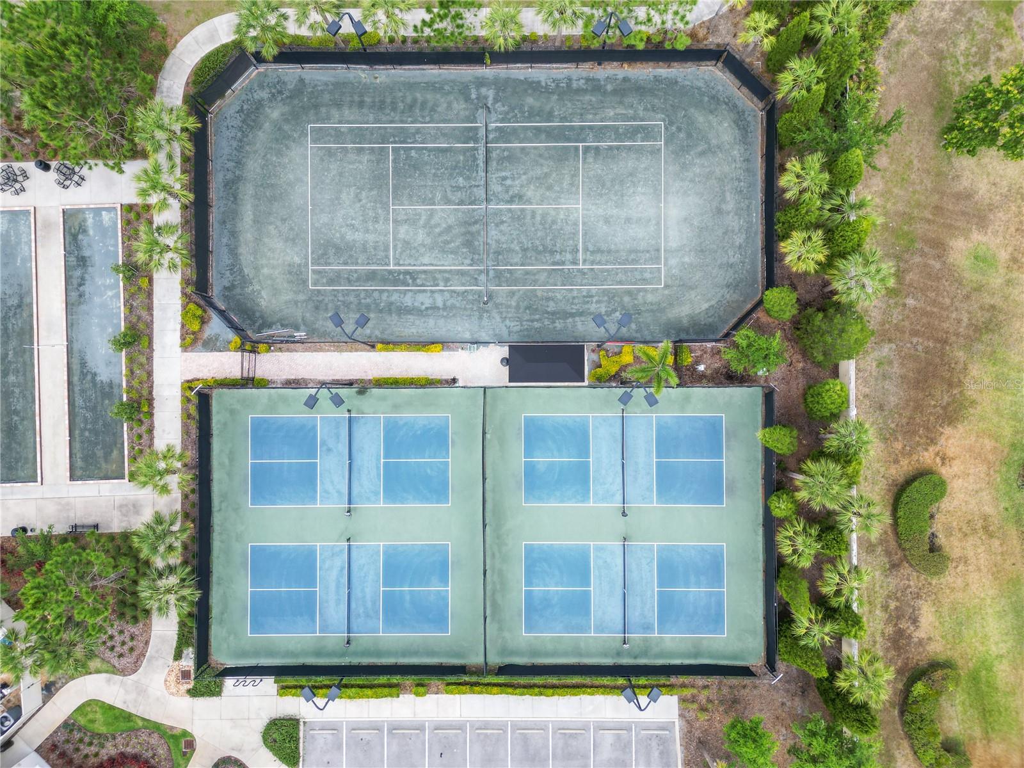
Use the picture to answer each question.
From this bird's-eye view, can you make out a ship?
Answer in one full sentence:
No, I can see no ship in this picture.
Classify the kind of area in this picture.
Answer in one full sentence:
The area seen from above is a sports ground.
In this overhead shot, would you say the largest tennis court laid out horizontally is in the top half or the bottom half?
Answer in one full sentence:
Seen from above, the largest tennis court laid out horizontally lies in the top half of the view.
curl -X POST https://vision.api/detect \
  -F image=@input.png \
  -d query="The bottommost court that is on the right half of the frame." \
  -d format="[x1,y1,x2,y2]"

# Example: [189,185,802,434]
[523,542,727,637]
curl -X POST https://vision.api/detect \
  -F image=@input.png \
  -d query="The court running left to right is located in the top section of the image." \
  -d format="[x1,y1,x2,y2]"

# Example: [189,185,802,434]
[211,66,763,342]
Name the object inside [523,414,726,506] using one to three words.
sports court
